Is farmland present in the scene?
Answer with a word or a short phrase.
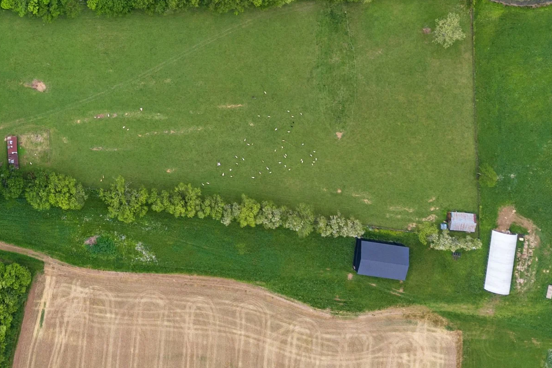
Yes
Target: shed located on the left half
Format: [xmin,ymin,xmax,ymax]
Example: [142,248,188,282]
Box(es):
[4,136,19,168]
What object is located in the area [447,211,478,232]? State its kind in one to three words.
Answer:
barn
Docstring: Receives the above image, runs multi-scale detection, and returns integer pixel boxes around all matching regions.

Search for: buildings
[484,231,519,297]
[4,136,19,168]
[353,238,411,282]
[447,211,478,232]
